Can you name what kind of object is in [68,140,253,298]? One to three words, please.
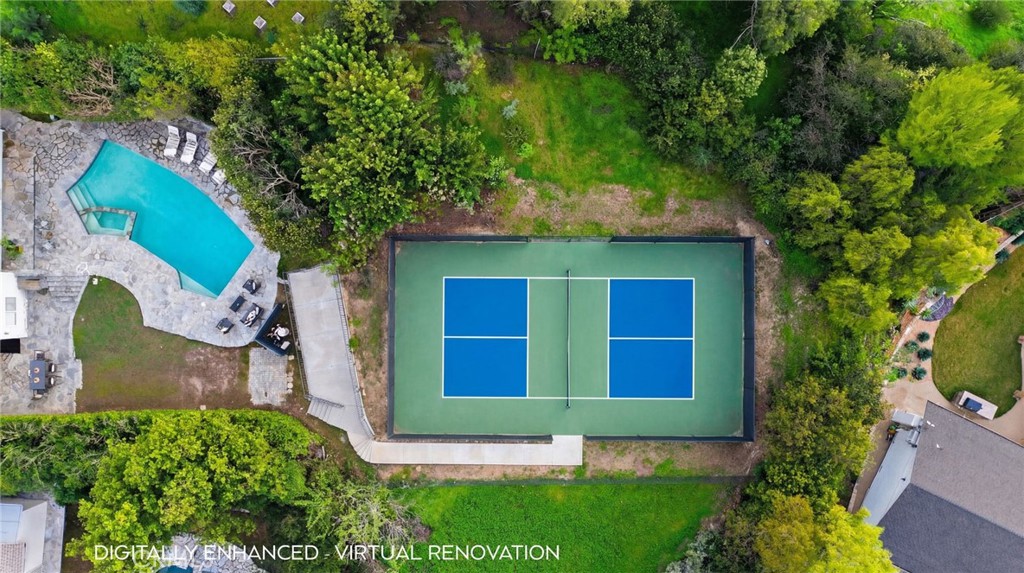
swimming pool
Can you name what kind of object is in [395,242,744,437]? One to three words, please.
sports court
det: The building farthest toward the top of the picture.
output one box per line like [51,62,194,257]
[0,273,29,338]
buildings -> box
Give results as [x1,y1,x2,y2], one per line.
[863,400,1024,573]
[0,273,29,338]
[0,501,49,573]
